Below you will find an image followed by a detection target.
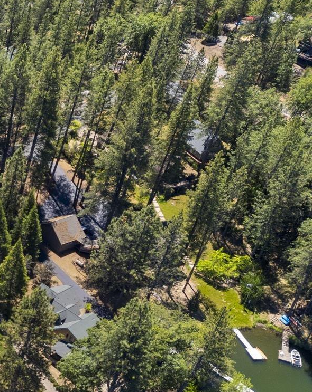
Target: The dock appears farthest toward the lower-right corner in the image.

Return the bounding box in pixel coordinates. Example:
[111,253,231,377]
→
[275,332,291,363]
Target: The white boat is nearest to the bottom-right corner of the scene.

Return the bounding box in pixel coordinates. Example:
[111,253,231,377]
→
[290,348,304,369]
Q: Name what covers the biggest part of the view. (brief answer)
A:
trees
